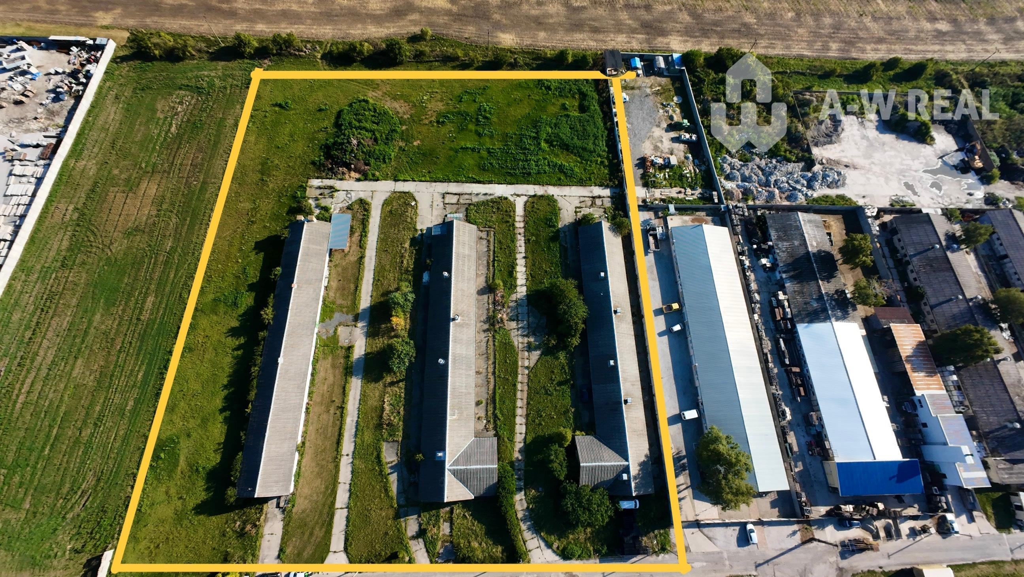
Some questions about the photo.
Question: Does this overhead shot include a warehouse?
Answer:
Yes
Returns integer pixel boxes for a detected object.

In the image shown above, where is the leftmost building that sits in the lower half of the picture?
[236,212,332,497]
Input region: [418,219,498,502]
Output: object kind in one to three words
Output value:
building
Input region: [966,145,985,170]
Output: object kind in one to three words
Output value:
work vehicle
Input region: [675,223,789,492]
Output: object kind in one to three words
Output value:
warehouse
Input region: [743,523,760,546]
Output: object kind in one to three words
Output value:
car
